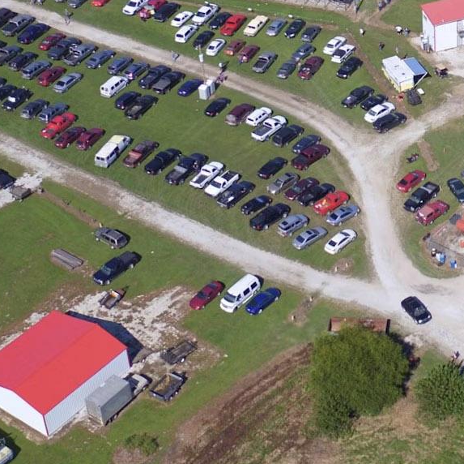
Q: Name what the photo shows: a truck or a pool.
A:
truck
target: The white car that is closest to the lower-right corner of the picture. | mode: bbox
[325,229,357,255]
